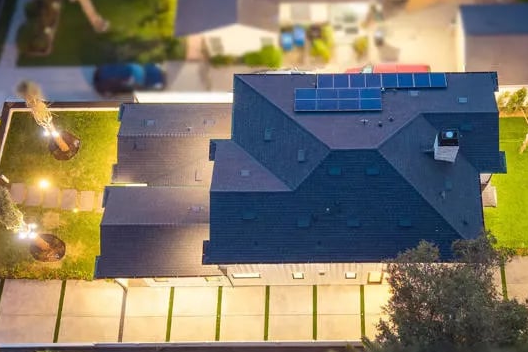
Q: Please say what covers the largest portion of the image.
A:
buildings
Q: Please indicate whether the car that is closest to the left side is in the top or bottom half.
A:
top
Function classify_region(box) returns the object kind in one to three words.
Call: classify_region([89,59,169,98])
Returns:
car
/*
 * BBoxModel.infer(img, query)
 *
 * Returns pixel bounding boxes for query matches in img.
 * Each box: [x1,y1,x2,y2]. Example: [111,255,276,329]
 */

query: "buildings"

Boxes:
[175,0,447,58]
[94,71,505,290]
